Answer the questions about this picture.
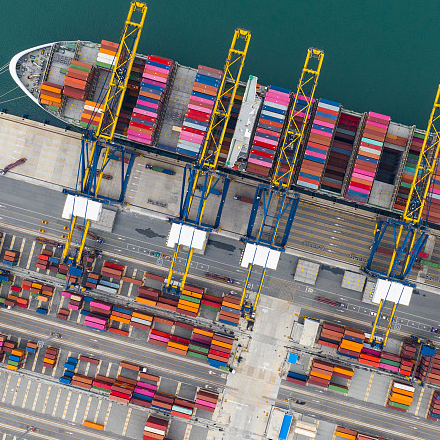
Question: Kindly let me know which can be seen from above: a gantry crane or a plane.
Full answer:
Looking from above, you can make out a gantry crane.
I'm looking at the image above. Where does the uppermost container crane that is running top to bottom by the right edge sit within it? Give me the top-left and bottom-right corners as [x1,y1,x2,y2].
[362,80,440,356]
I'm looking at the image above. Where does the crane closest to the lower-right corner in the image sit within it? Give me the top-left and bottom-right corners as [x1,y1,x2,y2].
[403,336,437,385]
